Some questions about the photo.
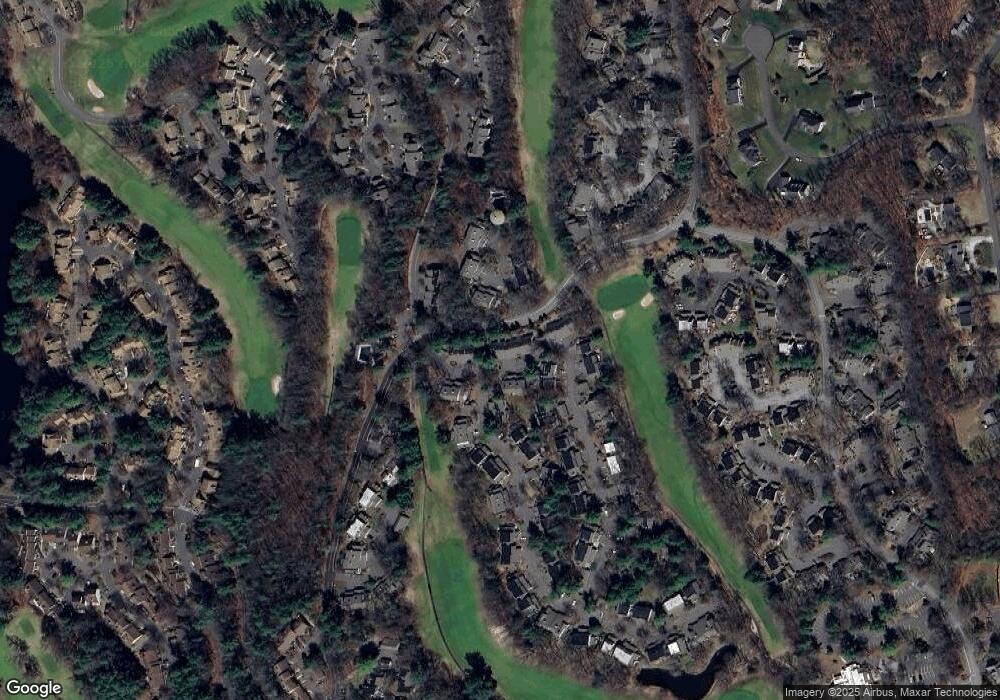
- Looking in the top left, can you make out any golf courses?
Yes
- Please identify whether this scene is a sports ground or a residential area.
residential area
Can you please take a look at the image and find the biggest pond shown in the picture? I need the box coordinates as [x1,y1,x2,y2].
[637,643,738,699]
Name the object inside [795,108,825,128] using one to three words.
house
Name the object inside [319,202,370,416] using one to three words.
golf course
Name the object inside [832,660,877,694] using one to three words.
building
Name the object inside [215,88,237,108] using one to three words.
house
